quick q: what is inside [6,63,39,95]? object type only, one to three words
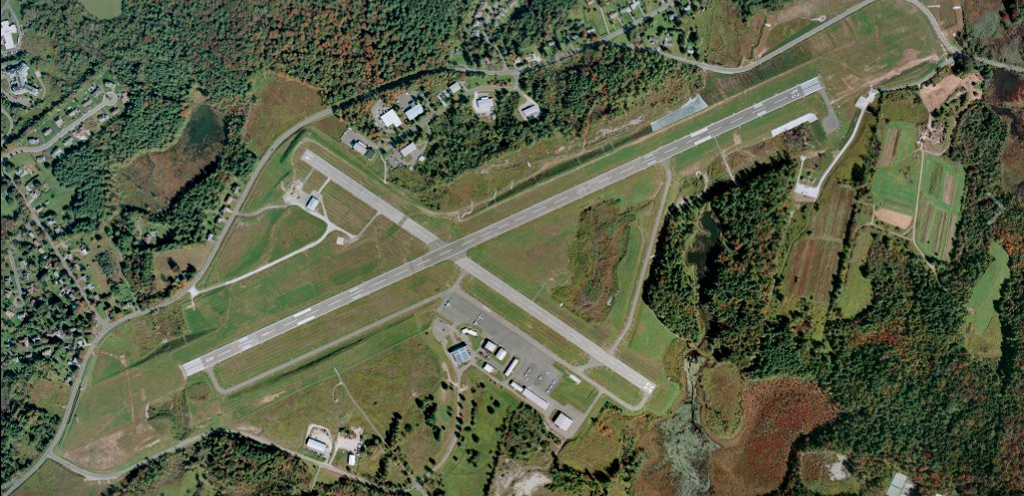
building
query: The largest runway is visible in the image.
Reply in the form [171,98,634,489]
[182,75,825,377]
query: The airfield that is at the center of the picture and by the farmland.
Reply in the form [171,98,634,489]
[179,75,839,452]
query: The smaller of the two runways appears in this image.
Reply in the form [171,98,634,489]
[301,149,655,394]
